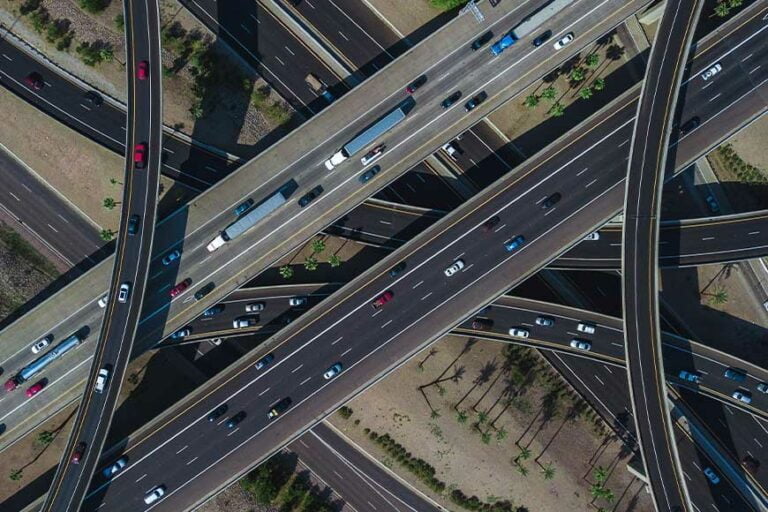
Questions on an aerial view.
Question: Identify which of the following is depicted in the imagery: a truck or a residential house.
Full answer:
Visible in the photo is a truck.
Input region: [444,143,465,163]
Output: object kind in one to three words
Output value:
vehicle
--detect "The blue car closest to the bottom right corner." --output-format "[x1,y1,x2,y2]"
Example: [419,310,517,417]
[704,466,719,484]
